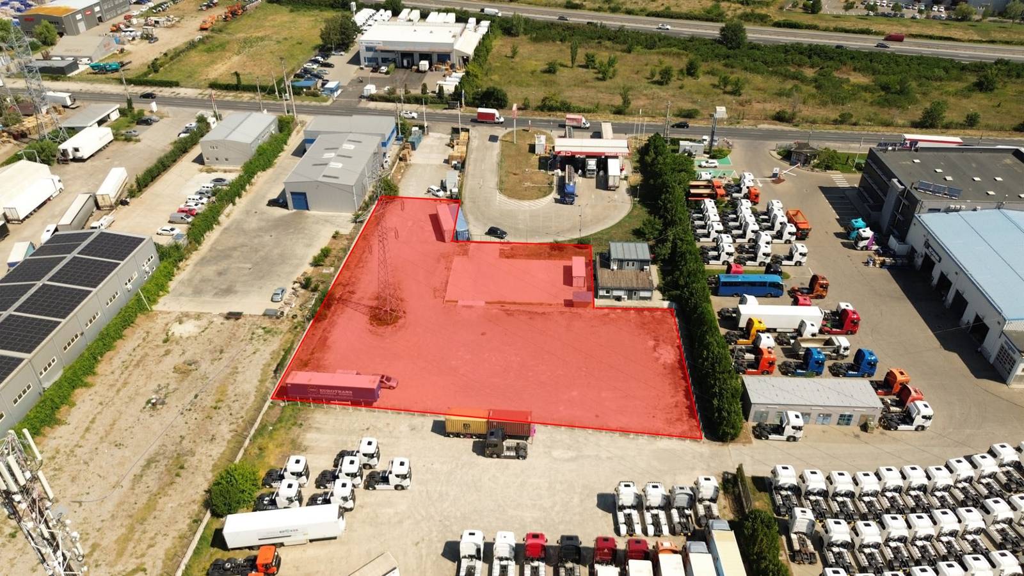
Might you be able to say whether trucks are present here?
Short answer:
Yes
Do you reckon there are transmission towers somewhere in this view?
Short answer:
Yes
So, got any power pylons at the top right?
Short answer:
No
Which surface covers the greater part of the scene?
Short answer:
paved ground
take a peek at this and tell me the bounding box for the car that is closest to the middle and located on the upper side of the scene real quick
[486,222,509,236]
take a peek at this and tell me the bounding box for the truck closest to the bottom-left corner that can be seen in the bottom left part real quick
[225,543,285,576]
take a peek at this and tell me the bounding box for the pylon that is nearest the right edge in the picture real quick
[355,147,412,329]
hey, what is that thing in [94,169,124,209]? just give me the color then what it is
white trailer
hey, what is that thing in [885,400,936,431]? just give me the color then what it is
white truck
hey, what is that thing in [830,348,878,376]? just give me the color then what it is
blue truck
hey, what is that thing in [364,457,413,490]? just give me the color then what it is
white truck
